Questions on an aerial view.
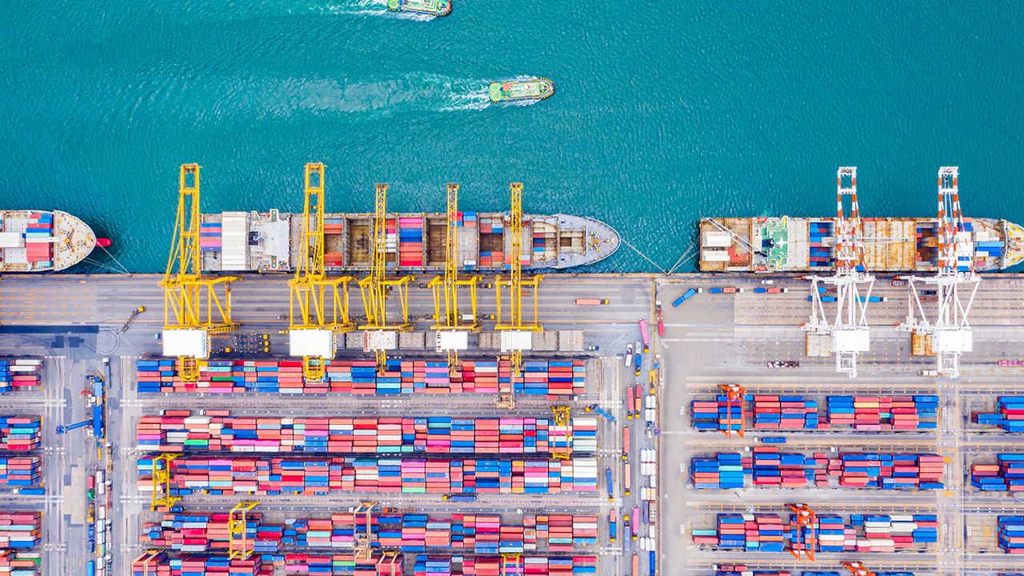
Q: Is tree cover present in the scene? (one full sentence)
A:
No, the scene doesn't show any tree cover.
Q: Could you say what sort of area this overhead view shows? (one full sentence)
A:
This image shows a port.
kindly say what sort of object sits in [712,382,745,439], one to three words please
container crane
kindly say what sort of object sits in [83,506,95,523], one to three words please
vehicle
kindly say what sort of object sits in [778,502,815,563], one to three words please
container crane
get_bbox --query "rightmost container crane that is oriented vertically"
[881,163,980,382]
